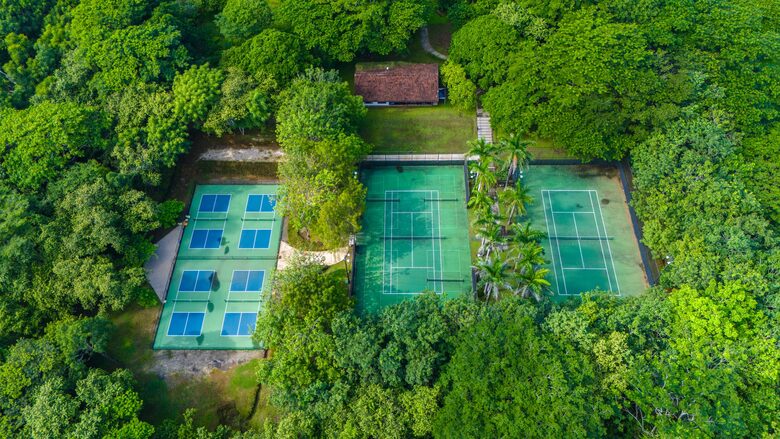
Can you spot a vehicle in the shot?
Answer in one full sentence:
No, the scene contains no vehicle.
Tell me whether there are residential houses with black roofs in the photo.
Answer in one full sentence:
No, the picture doesn't show any residential house with a black roof.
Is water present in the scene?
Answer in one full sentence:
No, water can't be seen anywhere here.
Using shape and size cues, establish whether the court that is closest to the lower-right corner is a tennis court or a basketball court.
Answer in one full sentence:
I'd identify the court that is closest to the lower-right corner as a tennis court.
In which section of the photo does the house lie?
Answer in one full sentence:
The house sits in the top section of the image.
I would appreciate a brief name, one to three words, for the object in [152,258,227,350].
sports court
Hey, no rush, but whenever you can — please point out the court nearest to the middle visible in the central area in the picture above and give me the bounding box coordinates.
[352,165,476,319]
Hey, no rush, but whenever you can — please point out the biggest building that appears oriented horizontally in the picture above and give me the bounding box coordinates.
[354,63,448,107]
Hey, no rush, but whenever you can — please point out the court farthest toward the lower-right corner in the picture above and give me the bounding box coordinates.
[521,162,658,309]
